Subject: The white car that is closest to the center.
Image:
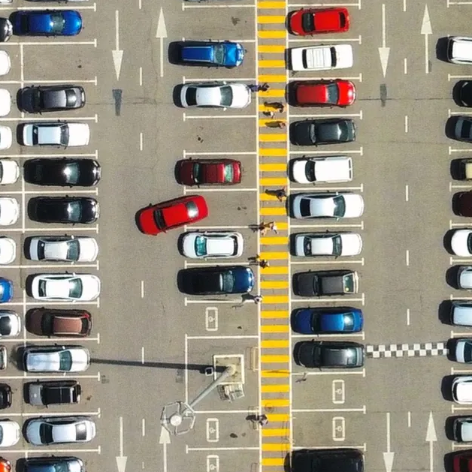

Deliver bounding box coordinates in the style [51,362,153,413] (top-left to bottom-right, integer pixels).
[183,229,245,262]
